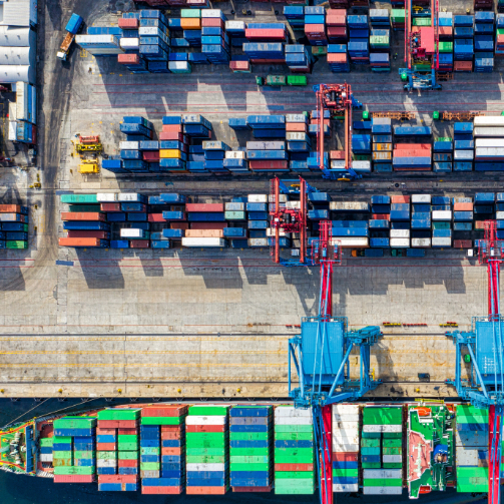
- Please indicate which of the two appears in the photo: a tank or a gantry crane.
gantry crane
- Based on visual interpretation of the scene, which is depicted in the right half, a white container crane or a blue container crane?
blue container crane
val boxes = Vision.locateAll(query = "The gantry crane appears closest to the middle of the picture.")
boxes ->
[268,179,320,268]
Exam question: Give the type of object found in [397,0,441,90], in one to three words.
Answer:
container crane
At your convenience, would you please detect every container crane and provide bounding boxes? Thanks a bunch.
[397,0,441,90]
[268,179,320,268]
[444,219,504,504]
[282,219,383,504]
[313,84,362,182]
